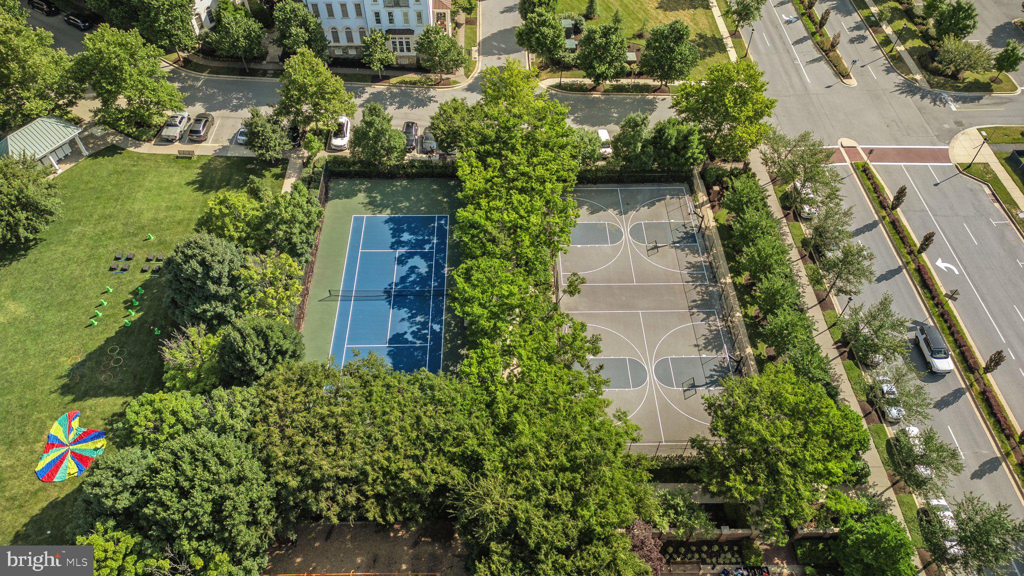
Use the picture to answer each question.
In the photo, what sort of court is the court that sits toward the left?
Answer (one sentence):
I'd say the court that sits toward the left is a tennis court.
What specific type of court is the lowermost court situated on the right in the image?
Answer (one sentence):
It turns out the lowermost court situated on the right is a basketball court.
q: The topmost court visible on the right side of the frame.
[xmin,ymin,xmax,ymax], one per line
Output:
[549,180,721,298]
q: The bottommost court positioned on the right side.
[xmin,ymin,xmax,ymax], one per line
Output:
[559,296,747,451]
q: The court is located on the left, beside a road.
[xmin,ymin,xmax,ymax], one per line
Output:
[280,178,477,451]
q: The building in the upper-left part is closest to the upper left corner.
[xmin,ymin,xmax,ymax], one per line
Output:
[0,111,86,184]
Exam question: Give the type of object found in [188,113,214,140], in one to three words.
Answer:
car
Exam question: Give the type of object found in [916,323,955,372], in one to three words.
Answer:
car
